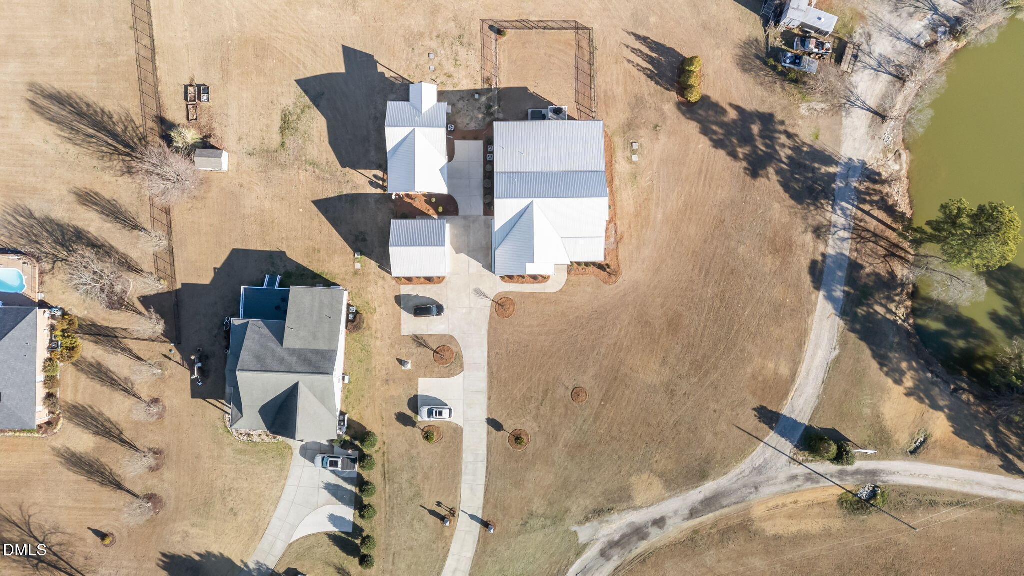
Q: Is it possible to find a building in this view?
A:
Yes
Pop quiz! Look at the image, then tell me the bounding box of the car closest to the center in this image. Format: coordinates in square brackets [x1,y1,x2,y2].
[413,302,443,317]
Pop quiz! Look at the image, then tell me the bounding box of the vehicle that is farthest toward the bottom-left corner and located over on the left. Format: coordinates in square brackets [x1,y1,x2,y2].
[315,453,357,471]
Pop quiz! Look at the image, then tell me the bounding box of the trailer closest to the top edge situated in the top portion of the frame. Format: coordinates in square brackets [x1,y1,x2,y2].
[791,0,848,41]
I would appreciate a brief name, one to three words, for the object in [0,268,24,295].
swimming pool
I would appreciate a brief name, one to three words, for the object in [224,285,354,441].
house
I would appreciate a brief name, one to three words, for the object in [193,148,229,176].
shed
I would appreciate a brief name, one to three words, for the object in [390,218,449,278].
building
